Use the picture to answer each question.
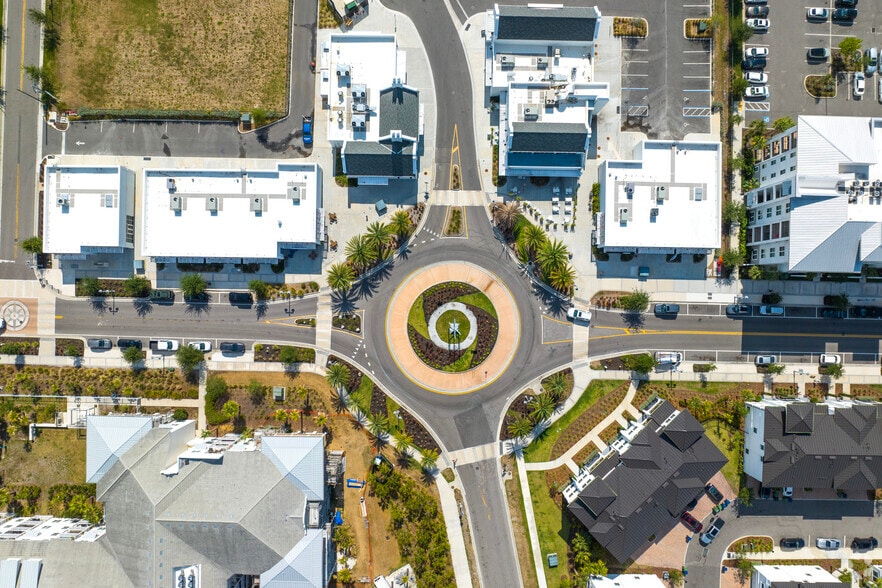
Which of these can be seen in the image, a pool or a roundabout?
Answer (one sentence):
Visible in the photo is a roundabout.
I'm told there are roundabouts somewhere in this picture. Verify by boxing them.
[361,236,545,421]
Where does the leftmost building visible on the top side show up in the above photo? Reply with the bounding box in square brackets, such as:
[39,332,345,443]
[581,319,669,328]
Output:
[42,166,136,260]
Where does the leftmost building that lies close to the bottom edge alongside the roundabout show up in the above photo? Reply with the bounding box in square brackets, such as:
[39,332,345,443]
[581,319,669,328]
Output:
[0,405,334,588]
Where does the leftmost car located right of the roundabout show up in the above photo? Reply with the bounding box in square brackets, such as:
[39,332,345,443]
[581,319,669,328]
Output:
[566,308,591,320]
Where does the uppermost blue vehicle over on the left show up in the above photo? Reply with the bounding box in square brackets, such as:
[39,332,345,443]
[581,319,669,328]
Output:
[301,115,314,145]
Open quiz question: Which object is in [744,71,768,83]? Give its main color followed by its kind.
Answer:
white vehicle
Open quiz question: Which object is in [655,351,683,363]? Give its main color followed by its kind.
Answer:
white vehicle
